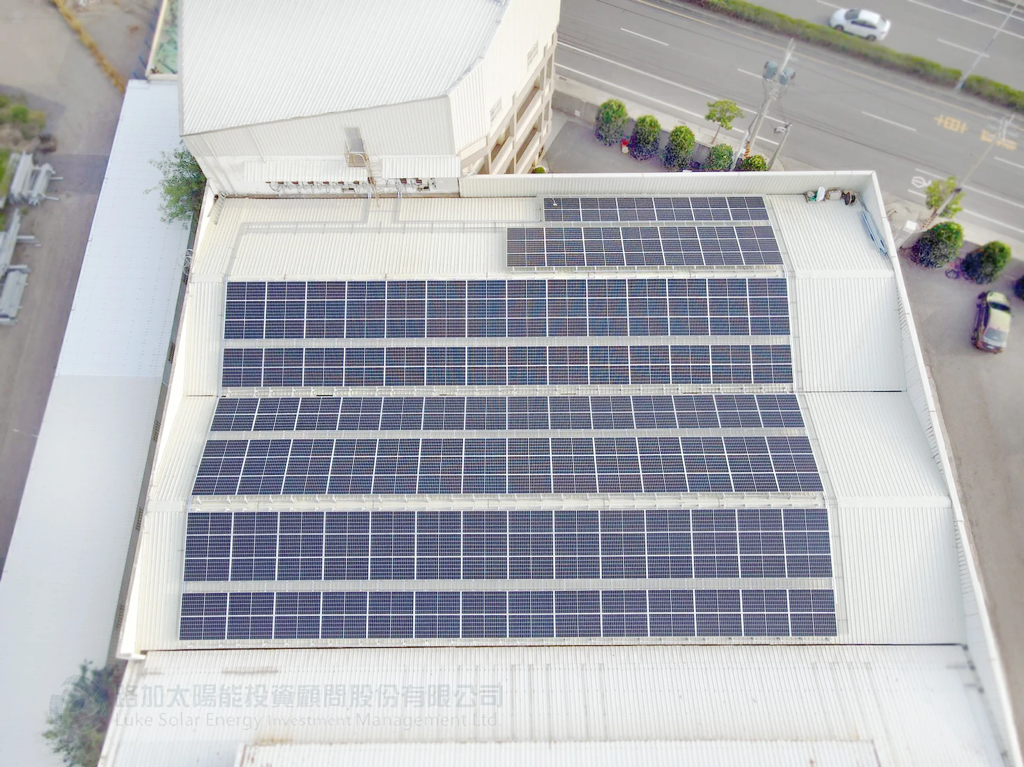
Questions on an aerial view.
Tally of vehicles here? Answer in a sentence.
I count 2 vehicles.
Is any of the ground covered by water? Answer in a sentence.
No, the picture contains no water.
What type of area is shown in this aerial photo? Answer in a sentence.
This image shows an industrial area.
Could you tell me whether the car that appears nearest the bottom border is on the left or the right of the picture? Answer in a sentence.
It is on the right.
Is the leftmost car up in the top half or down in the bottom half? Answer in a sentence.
The leftmost car is in the top half of the image.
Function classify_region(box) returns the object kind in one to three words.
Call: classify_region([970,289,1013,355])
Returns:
car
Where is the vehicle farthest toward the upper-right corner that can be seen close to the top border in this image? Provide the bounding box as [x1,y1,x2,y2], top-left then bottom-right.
[830,2,895,39]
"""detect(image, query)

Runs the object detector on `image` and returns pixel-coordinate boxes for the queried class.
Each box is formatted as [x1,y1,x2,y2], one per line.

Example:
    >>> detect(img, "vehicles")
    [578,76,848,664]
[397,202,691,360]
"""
[830,2,895,39]
[970,289,1013,355]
